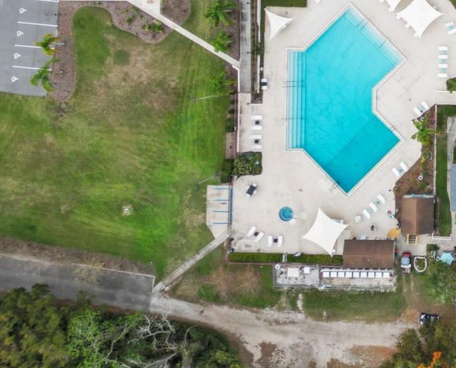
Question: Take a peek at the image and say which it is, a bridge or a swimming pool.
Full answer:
There is a swimming pool in the scene.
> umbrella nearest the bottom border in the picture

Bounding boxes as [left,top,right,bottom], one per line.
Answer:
[440,251,454,264]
